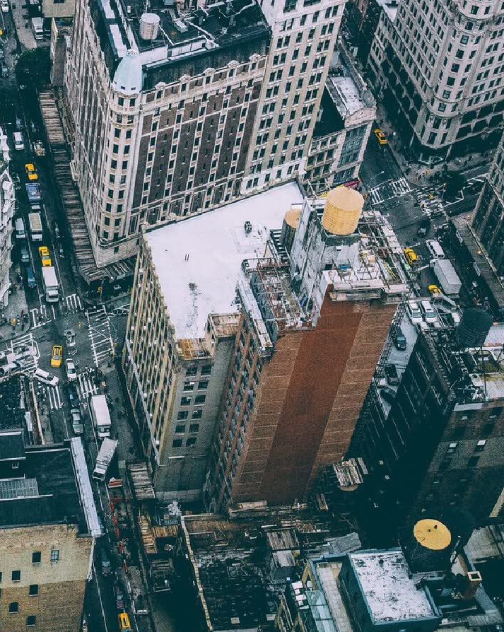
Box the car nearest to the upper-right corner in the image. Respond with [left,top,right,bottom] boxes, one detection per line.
[375,129,387,143]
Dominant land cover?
buildings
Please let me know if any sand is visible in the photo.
No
